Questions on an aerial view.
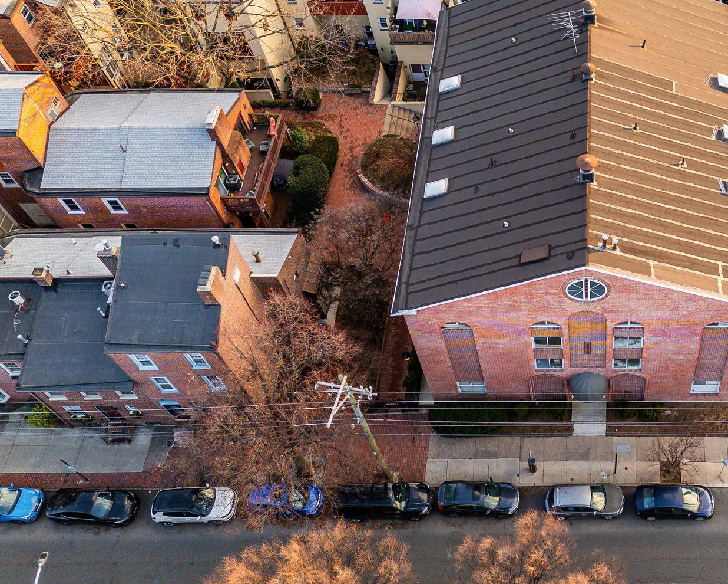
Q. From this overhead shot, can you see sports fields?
No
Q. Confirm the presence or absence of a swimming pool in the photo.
No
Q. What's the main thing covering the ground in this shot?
buildings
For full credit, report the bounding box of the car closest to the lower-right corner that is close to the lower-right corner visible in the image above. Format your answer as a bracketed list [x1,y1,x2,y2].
[635,481,715,523]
